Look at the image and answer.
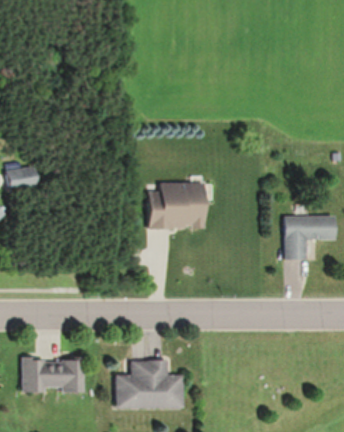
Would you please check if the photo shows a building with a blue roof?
No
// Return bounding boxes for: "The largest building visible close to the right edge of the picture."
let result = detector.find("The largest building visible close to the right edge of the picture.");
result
[282,216,338,259]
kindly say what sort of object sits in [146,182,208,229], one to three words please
house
